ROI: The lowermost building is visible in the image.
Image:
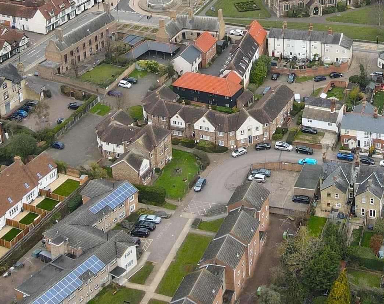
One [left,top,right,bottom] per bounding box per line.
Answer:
[167,266,229,304]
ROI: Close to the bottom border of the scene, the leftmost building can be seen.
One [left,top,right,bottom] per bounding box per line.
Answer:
[0,209,138,304]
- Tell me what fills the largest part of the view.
buildings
